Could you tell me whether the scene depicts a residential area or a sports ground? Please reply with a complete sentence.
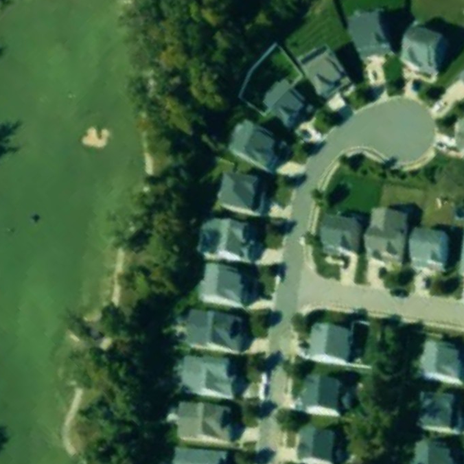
This image shows a residential area.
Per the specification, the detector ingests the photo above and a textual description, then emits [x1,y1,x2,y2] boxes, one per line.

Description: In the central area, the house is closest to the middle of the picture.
[199,219,250,260]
